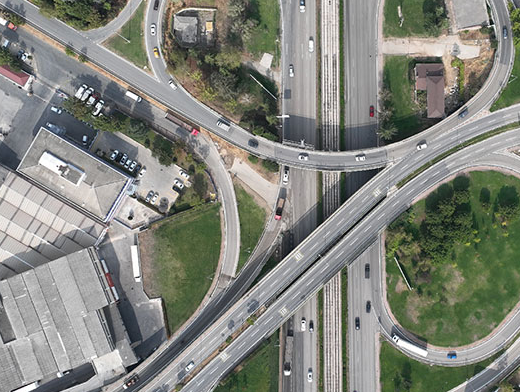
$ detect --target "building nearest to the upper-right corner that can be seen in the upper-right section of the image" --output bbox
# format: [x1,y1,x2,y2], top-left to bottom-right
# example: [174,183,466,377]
[449,0,491,33]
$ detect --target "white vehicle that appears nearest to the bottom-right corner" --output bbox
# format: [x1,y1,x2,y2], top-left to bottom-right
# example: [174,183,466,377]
[390,333,428,357]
